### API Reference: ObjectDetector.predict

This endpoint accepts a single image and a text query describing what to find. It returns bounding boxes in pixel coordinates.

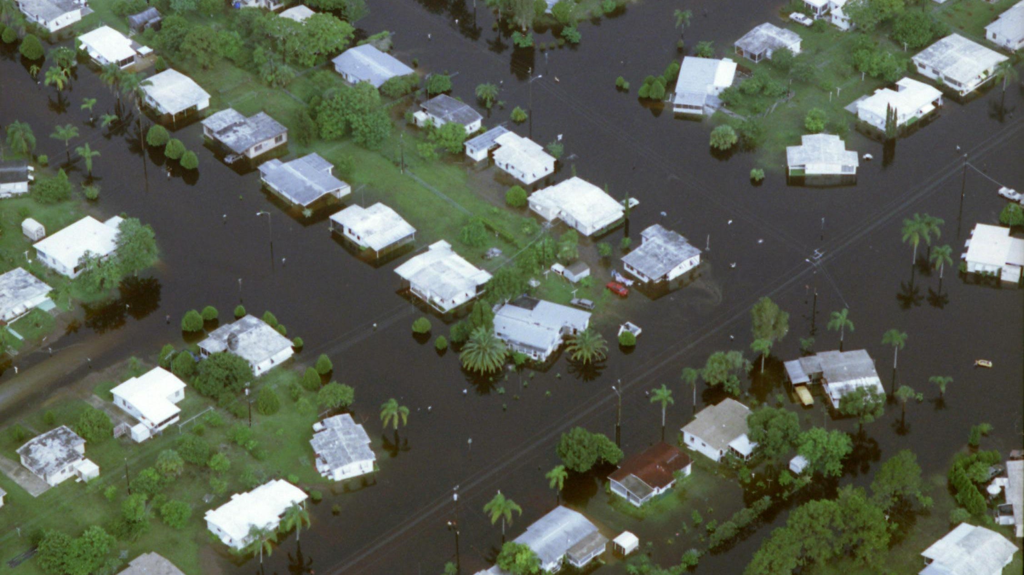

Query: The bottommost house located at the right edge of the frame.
[915,519,1015,575]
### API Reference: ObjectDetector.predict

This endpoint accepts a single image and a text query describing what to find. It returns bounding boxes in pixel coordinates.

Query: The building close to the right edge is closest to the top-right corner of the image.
[986,2,1024,51]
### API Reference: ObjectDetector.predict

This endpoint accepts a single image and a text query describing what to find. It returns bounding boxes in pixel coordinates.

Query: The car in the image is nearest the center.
[564,296,600,313]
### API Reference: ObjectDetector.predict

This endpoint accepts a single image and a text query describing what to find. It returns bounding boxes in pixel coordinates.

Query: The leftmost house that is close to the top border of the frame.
[24,0,81,29]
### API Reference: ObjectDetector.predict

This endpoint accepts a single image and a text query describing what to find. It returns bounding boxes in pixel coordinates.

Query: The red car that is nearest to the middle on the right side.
[602,280,633,301]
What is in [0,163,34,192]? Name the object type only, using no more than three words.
house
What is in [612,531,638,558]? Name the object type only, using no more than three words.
shed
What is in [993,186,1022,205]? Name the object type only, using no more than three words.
vehicle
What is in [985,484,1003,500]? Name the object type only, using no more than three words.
umbrella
